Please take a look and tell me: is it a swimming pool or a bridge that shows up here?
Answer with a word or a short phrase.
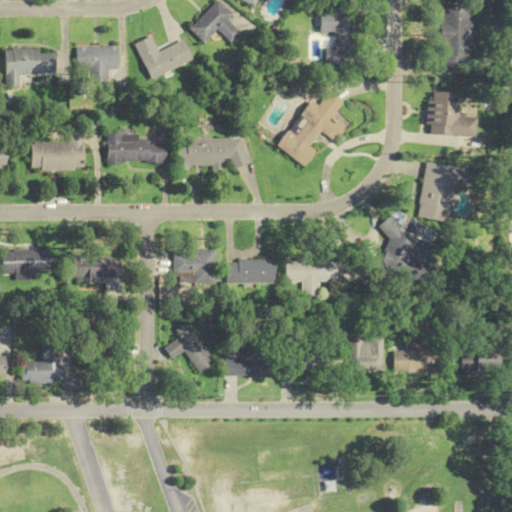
swimming pool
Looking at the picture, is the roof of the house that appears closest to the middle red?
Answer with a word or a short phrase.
No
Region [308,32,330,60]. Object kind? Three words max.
swimming pool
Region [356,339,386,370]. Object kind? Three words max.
house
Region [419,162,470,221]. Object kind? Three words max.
house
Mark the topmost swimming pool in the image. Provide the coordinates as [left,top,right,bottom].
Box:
[262,0,283,22]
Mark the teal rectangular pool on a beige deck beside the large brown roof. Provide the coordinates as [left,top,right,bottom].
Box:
[258,94,306,142]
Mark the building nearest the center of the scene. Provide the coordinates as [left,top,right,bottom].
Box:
[228,258,277,284]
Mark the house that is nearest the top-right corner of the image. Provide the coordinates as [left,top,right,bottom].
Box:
[441,8,472,62]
